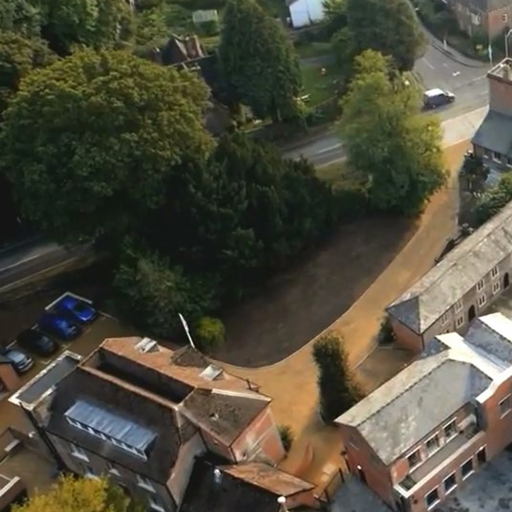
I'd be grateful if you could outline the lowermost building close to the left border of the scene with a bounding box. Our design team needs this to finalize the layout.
[0,469,31,512]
